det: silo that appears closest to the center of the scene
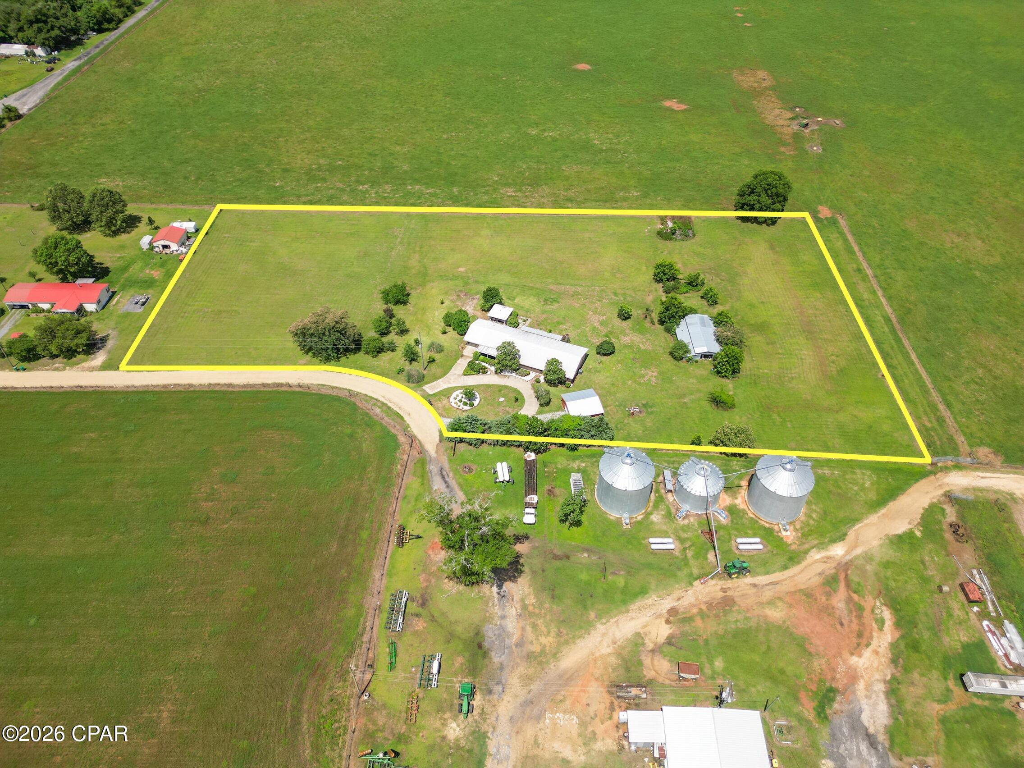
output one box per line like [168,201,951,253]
[593,446,657,519]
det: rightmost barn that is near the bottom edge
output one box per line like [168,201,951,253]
[661,705,771,768]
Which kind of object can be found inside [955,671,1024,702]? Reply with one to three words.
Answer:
trailer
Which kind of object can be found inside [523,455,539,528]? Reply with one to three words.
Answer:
vehicle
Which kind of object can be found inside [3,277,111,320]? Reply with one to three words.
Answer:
house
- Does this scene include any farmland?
Yes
